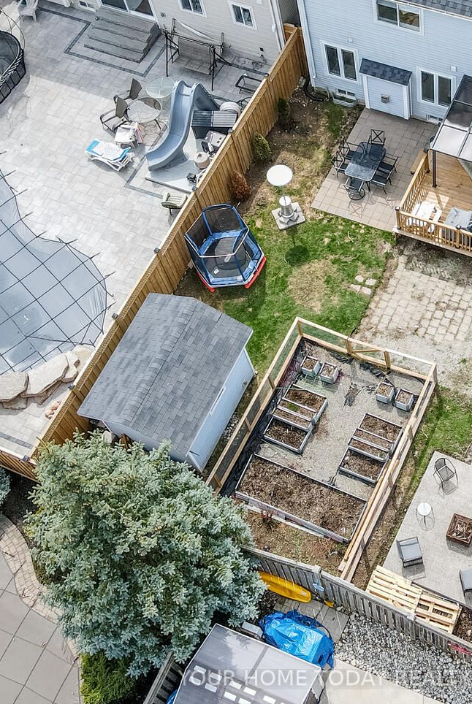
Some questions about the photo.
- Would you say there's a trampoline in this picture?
Yes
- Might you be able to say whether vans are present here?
No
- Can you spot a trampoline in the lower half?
No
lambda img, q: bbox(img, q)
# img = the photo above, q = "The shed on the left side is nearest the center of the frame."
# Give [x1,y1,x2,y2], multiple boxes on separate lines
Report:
[80,298,255,469]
